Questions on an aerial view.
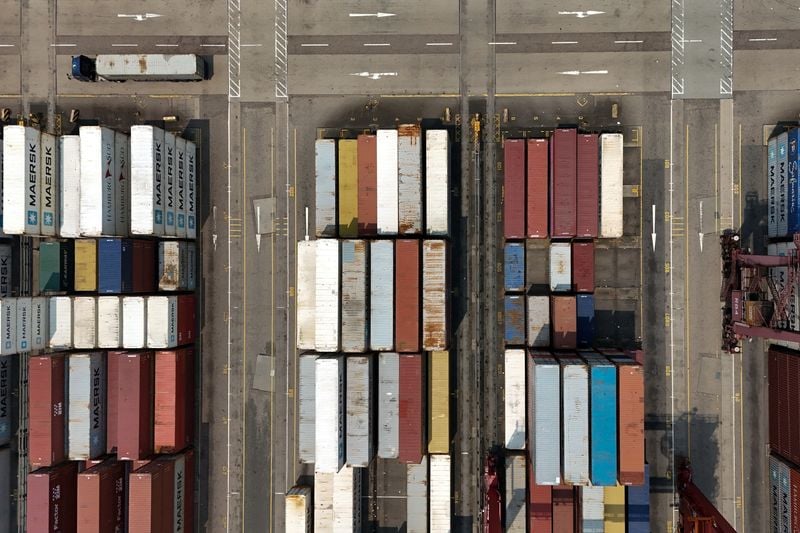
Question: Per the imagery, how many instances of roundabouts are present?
none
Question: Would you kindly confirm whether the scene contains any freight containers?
Yes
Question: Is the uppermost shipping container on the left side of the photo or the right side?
left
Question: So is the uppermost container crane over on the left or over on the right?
right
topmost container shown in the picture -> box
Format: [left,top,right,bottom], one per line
[97,54,204,81]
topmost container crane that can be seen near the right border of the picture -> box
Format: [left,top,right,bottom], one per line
[720,234,800,352]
